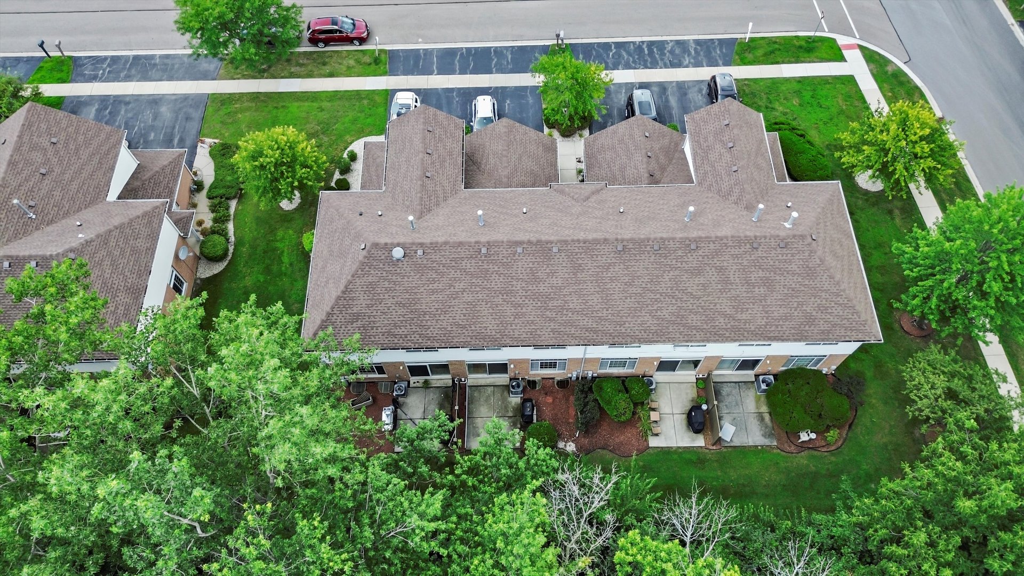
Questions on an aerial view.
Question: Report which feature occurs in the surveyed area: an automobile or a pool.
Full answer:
The image shows an automobile.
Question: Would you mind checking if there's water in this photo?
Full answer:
No, the scene doesn't show any water.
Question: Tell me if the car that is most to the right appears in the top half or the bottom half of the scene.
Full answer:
The car that is most to the right sits in the top half of the picture.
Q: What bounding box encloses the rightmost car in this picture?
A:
[702,76,737,105]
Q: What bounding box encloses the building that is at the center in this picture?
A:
[304,97,886,391]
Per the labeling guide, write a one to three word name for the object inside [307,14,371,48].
car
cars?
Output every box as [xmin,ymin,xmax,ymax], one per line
[624,92,660,125]
[469,95,500,134]
[702,76,737,105]
[394,93,422,118]
[307,14,371,48]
